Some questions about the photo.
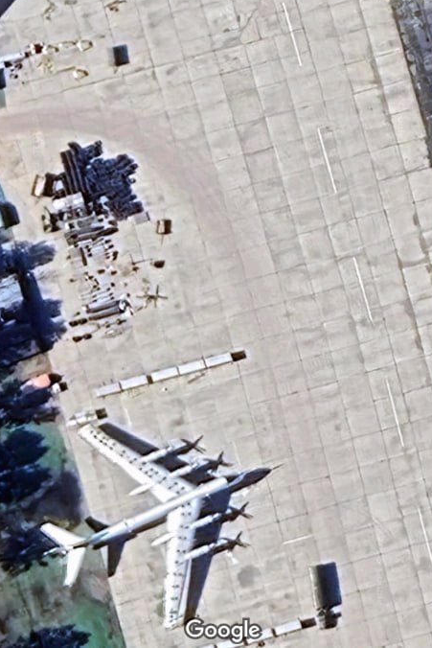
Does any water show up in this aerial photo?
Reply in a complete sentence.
No, the scene doesn't show any water.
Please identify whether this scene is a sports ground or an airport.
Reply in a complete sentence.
What you see here is an airport.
